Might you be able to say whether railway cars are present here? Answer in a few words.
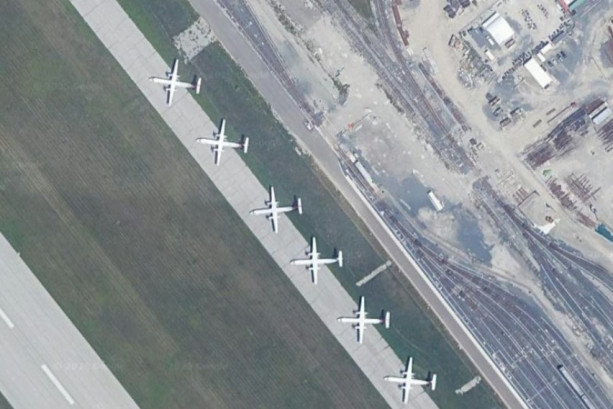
Yes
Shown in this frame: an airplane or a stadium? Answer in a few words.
airplane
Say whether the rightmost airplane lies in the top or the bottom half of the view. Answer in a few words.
bottom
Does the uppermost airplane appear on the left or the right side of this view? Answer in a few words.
left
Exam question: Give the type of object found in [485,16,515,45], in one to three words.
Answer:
building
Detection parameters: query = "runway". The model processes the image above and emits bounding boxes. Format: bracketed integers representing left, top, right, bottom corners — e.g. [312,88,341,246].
[0,233,139,409]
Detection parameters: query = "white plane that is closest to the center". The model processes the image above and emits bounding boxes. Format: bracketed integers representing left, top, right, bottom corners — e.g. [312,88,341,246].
[250,186,302,234]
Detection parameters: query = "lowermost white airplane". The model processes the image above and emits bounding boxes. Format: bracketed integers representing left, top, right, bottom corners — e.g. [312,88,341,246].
[384,357,436,404]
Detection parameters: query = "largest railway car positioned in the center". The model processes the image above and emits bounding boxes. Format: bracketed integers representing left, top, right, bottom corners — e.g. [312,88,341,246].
[356,163,374,182]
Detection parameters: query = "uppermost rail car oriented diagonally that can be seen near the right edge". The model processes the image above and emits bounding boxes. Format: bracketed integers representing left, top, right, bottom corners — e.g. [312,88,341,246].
[560,368,585,396]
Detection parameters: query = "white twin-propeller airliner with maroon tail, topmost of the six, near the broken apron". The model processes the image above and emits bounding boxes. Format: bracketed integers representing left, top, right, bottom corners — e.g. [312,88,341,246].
[150,59,201,105]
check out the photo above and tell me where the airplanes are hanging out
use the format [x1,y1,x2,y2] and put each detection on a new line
[290,238,342,284]
[196,119,247,166]
[384,357,436,404]
[338,296,389,344]
[150,59,201,105]
[250,186,302,234]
